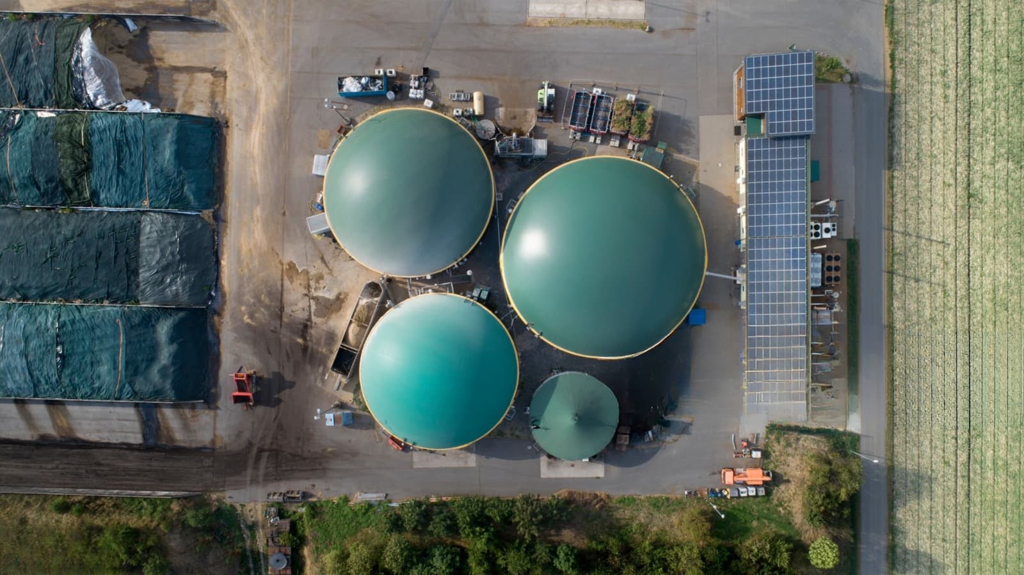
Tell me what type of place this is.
industrial area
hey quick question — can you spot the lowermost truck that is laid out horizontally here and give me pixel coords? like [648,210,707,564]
[716,464,772,485]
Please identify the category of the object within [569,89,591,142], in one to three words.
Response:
trailer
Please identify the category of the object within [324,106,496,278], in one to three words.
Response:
storage tank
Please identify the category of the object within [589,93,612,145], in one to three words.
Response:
trailer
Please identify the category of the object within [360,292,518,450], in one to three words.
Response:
storage tank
